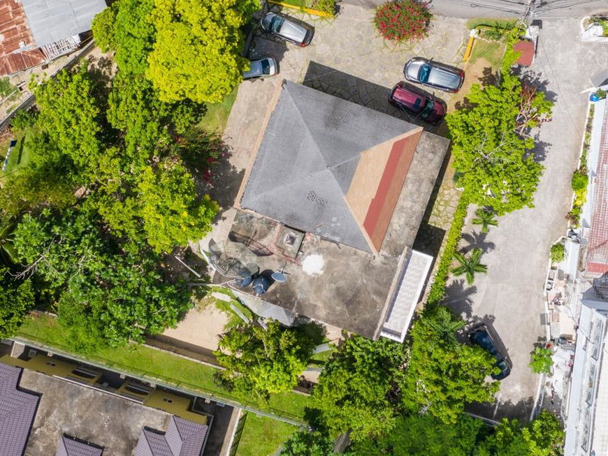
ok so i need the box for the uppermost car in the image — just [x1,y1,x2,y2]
[260,12,315,48]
